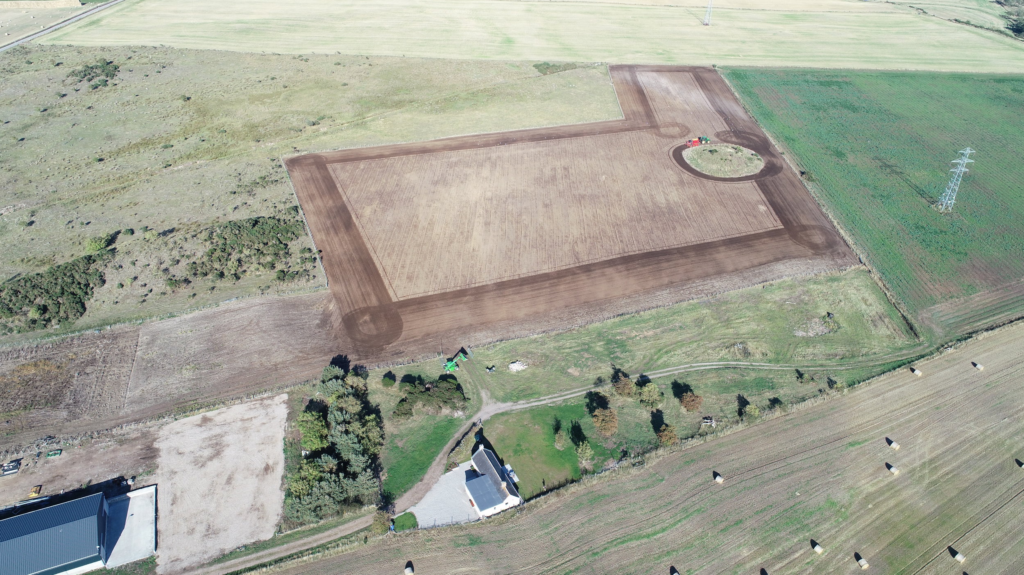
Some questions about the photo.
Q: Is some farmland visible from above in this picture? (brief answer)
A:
Yes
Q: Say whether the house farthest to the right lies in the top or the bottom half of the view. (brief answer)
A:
bottom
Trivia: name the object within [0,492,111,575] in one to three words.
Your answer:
barn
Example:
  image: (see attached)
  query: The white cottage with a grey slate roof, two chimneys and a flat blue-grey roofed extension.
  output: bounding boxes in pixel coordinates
[464,444,520,519]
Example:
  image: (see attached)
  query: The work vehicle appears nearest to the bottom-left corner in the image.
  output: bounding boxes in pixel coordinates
[442,352,470,374]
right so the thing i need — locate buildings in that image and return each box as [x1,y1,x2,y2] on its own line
[0,492,111,575]
[464,444,520,519]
